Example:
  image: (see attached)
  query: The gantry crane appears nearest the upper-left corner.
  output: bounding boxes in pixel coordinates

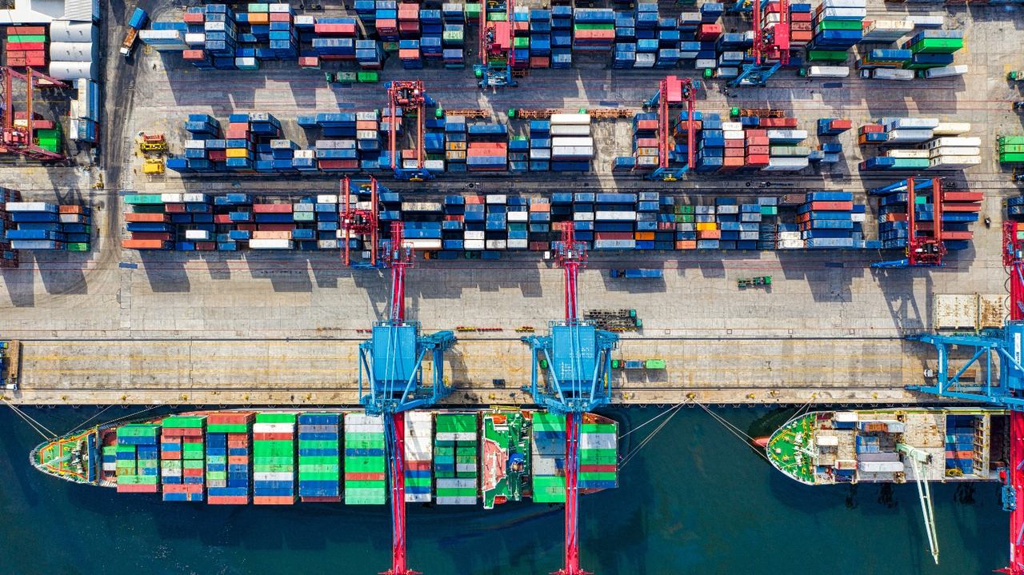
[2,62,76,163]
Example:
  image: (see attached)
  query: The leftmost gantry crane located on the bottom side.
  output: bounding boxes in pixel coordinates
[359,224,457,575]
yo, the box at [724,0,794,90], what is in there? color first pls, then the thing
red container crane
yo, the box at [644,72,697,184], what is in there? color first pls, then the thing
red container crane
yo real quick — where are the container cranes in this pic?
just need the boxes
[724,0,794,90]
[478,0,517,90]
[2,62,76,163]
[864,173,944,272]
[904,223,1024,575]
[387,75,437,185]
[520,223,619,575]
[644,72,697,184]
[359,224,457,575]
[341,174,396,272]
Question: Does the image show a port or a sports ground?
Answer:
port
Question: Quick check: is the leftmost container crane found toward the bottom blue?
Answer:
Yes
